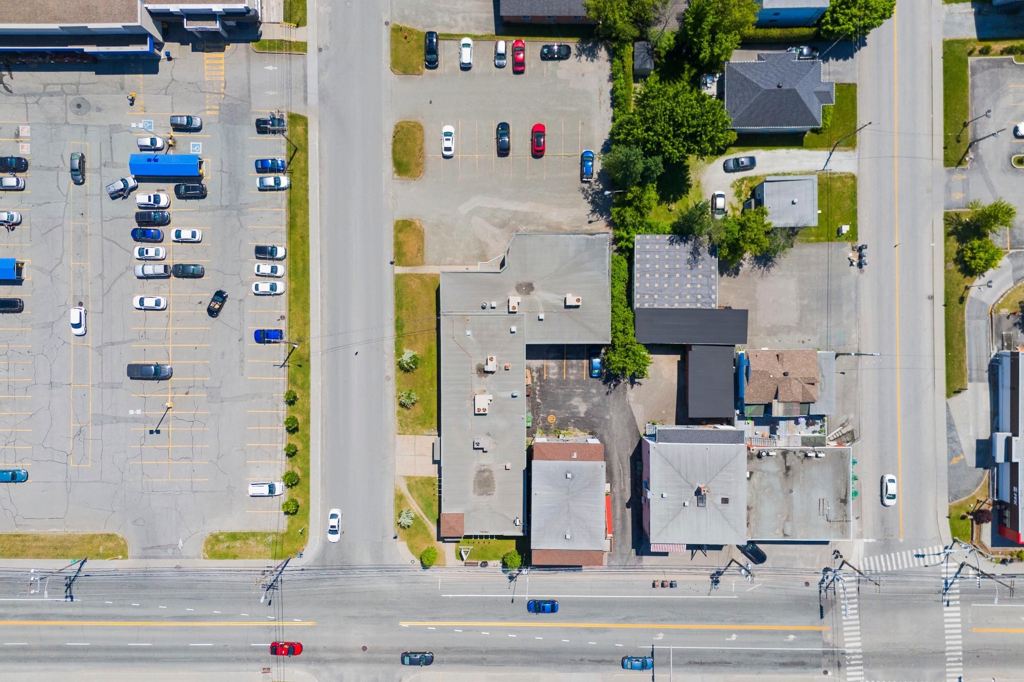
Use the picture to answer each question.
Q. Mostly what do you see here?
paved ground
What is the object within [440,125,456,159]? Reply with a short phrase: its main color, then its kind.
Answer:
white car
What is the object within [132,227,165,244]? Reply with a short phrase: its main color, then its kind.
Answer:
blue car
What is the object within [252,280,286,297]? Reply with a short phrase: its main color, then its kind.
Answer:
white car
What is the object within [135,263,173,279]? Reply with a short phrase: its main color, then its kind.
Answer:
white vehicle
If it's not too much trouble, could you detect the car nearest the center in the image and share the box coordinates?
[589,348,604,378]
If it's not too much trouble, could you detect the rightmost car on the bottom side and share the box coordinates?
[879,474,898,506]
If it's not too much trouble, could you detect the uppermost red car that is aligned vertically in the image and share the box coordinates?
[511,40,527,75]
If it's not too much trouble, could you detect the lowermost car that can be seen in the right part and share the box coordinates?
[621,654,653,672]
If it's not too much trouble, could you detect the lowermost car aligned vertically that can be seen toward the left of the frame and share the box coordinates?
[326,508,342,542]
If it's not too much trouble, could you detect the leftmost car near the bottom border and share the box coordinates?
[270,639,304,658]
